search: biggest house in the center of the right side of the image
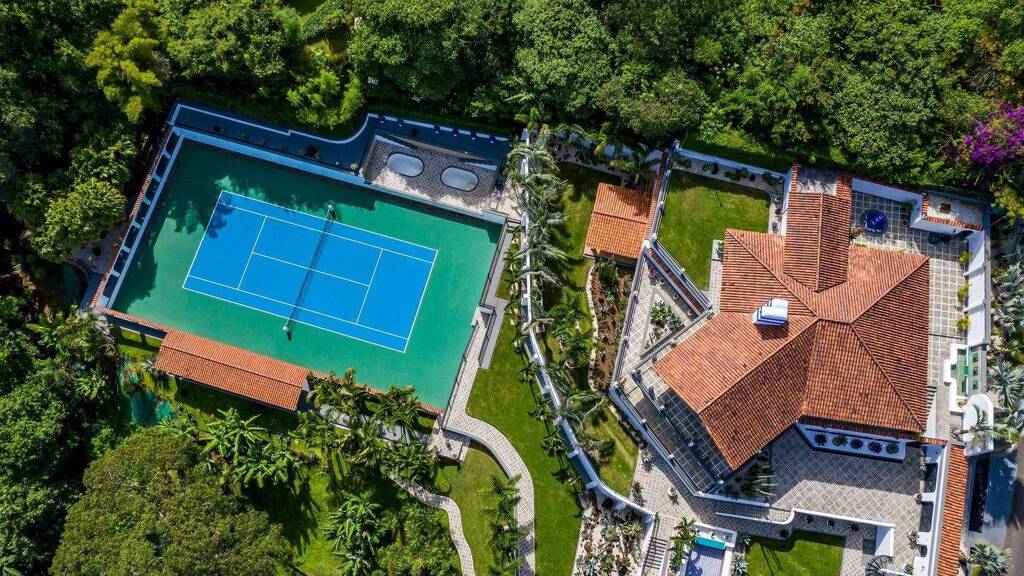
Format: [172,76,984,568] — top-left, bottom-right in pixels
[653,166,932,472]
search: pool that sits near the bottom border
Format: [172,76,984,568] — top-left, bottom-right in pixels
[682,525,740,576]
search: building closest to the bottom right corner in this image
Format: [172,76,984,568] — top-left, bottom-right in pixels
[930,446,971,576]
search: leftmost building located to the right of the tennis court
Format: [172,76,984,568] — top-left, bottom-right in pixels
[584,182,652,261]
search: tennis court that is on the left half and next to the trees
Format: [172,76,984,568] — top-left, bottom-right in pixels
[104,140,503,404]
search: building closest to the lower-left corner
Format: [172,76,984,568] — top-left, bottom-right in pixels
[153,328,314,412]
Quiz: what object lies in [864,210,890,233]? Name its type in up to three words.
fountain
